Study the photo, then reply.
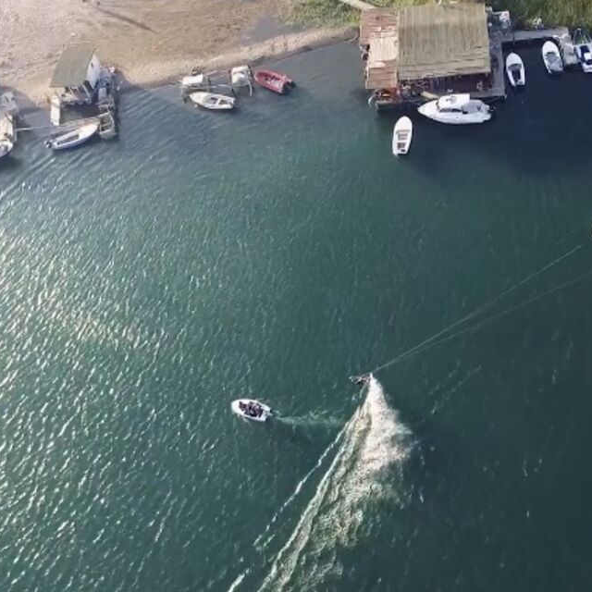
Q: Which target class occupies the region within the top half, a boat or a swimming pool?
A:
boat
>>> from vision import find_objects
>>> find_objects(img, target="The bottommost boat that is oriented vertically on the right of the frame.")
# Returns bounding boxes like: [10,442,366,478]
[391,114,412,160]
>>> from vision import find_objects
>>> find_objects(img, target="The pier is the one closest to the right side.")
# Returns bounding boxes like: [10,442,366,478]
[554,33,578,66]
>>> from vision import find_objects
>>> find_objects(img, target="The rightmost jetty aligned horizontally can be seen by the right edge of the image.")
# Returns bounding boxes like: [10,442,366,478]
[501,27,568,43]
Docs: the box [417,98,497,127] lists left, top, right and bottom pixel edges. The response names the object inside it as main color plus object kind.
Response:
white boat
